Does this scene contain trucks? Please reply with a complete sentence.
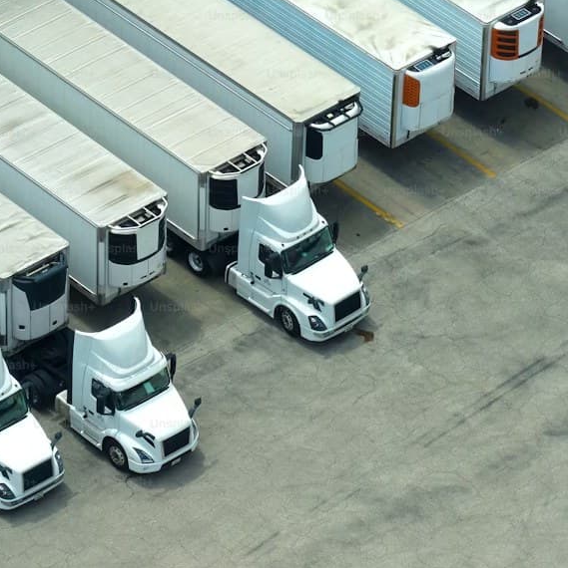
Yes, there's a truck here.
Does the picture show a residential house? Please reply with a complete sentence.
No, the picture doesn't show any residential house.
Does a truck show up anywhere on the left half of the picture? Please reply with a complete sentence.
Yes, you'll find a truck on the left half of the picture.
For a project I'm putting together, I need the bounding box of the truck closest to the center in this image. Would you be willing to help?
[166,166,369,341]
